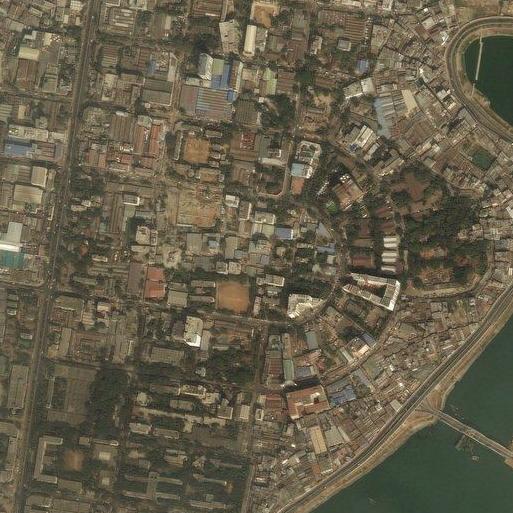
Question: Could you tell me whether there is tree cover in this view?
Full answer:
Yes, the picture does contain tree cover.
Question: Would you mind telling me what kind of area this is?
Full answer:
It's a residential area.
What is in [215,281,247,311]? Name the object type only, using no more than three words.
sports field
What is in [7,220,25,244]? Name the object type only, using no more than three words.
shed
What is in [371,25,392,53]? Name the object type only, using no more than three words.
building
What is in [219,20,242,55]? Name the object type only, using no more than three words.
building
